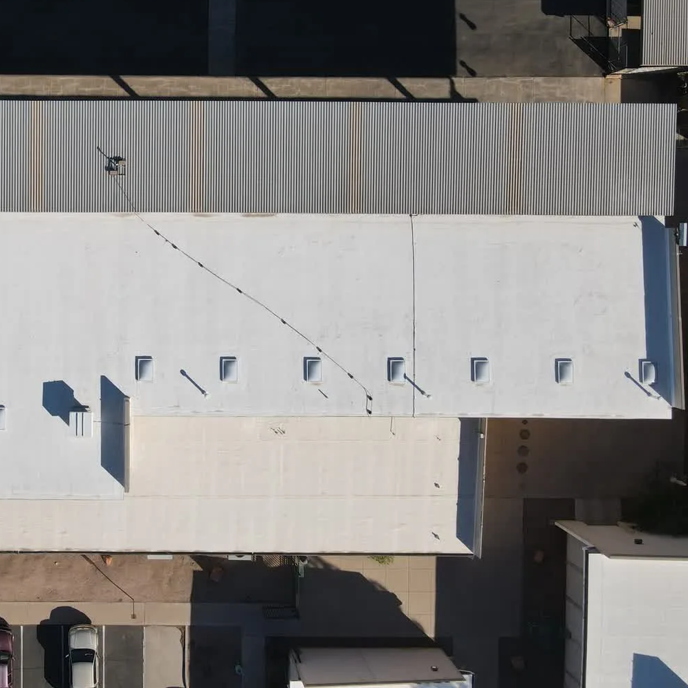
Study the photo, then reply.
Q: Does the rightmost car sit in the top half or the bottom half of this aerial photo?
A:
bottom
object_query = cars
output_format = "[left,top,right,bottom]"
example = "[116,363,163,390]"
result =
[0,624,17,688]
[65,620,102,688]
